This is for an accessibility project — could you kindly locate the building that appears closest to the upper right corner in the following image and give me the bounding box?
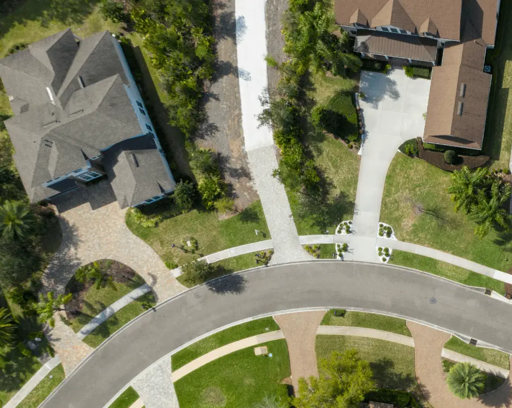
[335,0,500,152]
